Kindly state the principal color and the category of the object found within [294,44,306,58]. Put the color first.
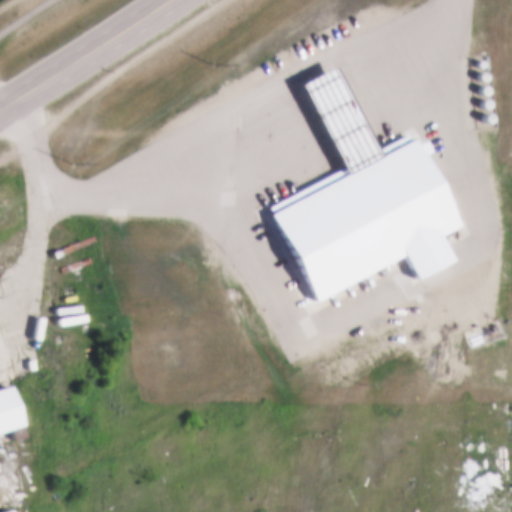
white vehicle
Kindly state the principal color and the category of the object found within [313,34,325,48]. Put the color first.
white vehicle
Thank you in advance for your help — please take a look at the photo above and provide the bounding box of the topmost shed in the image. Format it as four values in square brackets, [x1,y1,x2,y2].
[266,68,464,300]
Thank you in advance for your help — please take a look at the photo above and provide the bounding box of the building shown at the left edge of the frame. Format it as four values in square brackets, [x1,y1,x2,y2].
[0,386,29,436]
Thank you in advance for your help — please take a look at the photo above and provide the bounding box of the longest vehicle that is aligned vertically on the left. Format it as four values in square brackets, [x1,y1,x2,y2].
[34,316,49,348]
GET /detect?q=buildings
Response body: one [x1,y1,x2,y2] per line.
[266,68,464,300]
[0,386,29,436]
